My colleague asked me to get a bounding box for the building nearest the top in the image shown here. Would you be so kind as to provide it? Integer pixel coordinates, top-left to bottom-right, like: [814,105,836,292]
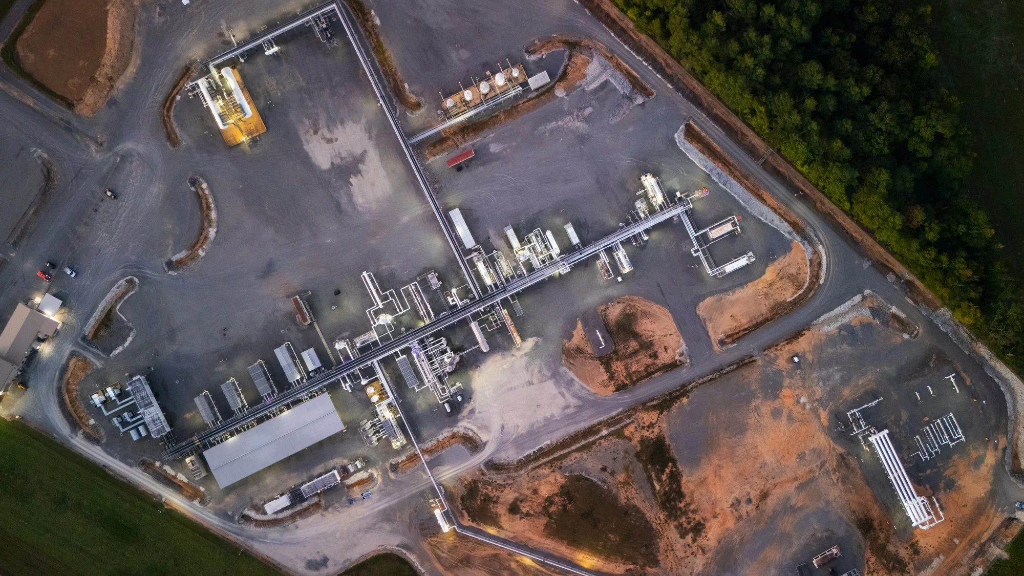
[528,71,554,93]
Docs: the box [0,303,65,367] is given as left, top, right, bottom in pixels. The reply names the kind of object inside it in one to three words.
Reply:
building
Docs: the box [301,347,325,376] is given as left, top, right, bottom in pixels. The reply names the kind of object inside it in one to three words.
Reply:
shed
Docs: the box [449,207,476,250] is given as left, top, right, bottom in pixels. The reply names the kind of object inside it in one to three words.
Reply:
building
